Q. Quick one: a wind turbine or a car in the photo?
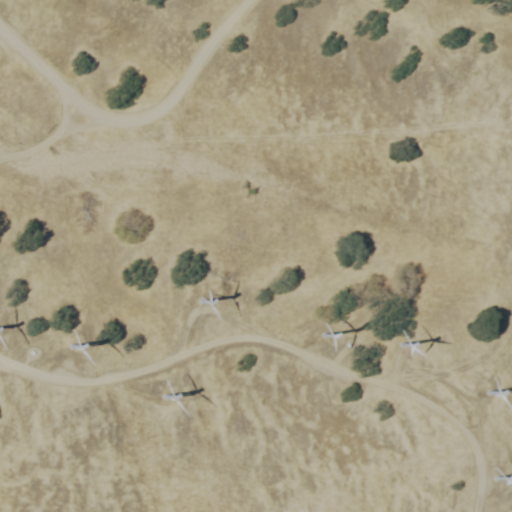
wind turbine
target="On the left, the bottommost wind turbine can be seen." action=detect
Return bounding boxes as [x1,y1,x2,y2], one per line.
[162,381,188,414]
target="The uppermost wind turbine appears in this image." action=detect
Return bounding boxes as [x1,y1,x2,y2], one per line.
[198,290,221,322]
